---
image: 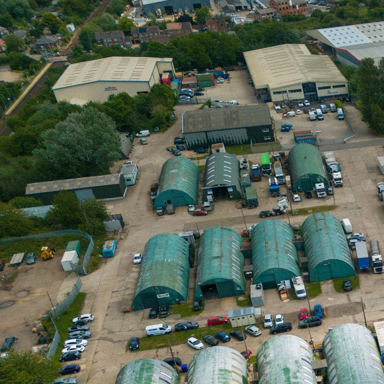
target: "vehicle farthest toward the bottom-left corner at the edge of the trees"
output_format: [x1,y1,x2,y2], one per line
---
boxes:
[2,336,15,349]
